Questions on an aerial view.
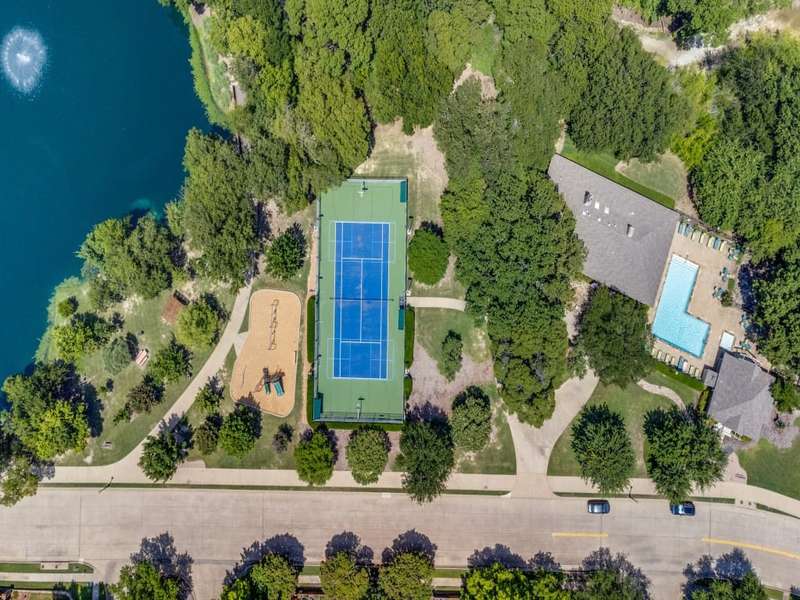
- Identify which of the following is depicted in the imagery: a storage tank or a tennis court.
tennis court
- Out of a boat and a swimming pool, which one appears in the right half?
swimming pool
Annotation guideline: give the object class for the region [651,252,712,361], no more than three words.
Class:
swimming pool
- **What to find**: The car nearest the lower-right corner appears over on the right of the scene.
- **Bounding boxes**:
[669,500,693,515]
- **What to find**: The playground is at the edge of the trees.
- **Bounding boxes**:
[230,288,302,418]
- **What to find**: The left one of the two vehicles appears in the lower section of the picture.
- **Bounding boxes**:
[587,499,609,515]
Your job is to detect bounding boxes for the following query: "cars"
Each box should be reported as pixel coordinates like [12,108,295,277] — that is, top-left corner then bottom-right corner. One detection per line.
[669,500,693,515]
[587,499,609,515]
